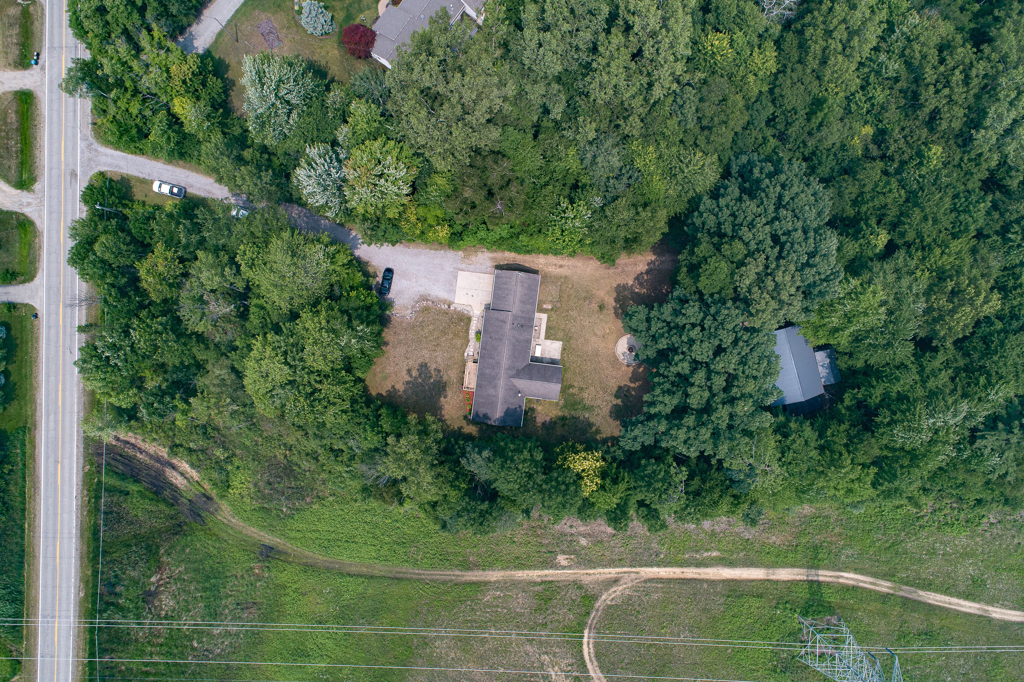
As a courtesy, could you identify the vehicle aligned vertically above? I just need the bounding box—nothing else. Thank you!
[380,267,395,297]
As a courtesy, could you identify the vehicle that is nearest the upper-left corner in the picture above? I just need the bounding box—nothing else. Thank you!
[153,181,188,197]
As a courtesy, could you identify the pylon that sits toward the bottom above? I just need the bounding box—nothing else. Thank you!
[797,615,903,682]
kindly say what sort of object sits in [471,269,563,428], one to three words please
house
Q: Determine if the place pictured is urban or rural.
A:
rural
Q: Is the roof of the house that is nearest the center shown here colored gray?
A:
Yes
